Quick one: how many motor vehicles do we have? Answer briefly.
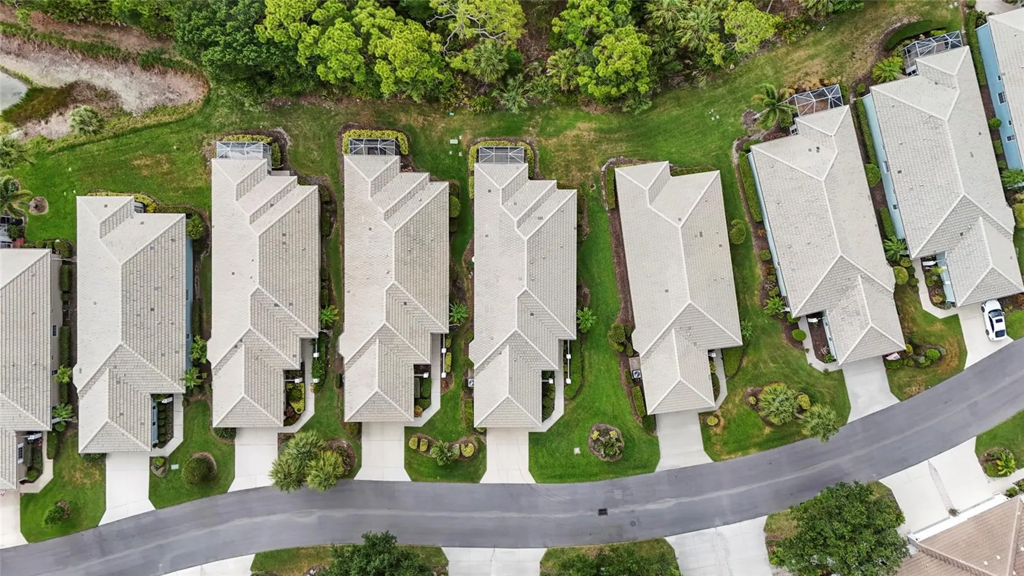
1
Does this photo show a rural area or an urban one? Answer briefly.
urban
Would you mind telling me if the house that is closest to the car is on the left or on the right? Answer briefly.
right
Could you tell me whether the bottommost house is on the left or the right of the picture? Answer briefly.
right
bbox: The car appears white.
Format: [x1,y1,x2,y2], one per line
[979,298,1007,341]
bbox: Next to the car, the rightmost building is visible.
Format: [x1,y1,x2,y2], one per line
[863,31,1024,306]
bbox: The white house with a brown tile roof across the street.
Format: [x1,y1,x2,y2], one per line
[885,494,1024,576]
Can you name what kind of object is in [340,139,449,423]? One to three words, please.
house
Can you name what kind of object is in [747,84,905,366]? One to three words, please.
house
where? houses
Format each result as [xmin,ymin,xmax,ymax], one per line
[863,31,1024,306]
[340,139,449,423]
[469,147,578,428]
[615,160,743,415]
[885,494,1024,576]
[747,84,905,366]
[0,215,63,490]
[73,196,193,453]
[976,8,1024,206]
[208,141,322,428]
